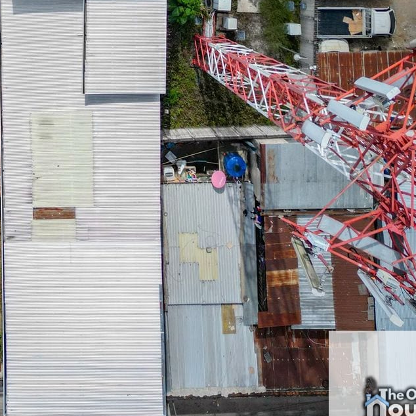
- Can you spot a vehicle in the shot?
Yes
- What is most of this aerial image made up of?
buildings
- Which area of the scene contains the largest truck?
top right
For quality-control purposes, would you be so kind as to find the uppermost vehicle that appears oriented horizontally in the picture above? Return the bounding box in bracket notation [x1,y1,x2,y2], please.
[319,4,394,39]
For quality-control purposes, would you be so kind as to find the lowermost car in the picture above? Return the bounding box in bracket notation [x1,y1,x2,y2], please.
[319,37,348,53]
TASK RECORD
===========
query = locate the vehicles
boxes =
[319,4,394,39]
[319,37,348,53]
